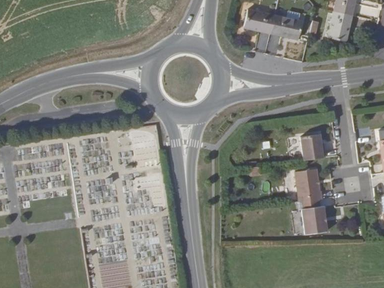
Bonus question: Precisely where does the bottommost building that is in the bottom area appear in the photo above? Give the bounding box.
[302,206,329,234]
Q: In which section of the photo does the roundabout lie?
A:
top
